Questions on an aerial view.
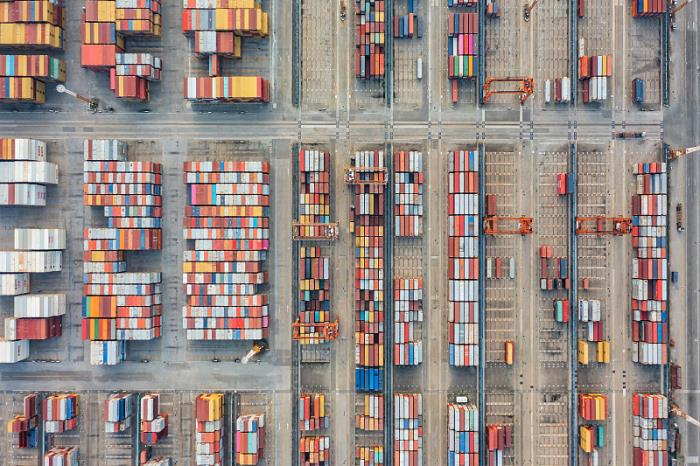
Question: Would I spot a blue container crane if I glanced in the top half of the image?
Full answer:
No, there is no blue container crane in the top half of the image.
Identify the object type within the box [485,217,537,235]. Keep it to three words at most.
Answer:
container crane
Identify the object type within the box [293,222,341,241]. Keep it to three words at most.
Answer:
container crane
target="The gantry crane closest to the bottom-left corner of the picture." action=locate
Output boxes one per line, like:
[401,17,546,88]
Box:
[293,315,340,340]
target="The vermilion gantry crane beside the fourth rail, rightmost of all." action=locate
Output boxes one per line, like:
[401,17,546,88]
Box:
[577,217,630,235]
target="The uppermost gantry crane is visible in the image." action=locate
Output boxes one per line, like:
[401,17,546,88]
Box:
[485,78,537,105]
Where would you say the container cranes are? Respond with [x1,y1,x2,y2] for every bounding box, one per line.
[485,217,537,235]
[343,167,389,189]
[577,217,630,235]
[293,315,340,340]
[293,222,341,241]
[485,78,537,105]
